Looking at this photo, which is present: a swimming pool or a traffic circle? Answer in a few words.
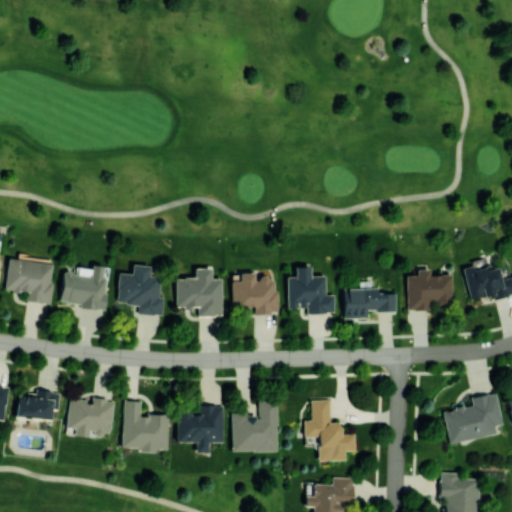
swimming pool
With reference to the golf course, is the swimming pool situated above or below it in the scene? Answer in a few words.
below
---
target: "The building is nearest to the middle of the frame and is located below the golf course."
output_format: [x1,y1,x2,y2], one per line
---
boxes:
[232,269,280,314]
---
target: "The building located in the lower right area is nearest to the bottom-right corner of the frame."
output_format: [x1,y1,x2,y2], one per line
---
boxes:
[442,474,482,512]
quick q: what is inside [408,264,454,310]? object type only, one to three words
house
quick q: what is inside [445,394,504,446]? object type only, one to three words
house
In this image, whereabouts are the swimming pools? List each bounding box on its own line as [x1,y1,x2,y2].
[10,429,52,458]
